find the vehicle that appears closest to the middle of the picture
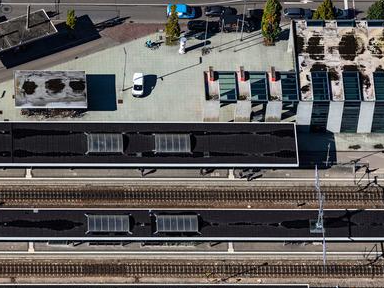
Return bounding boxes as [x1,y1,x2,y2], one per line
[132,72,145,97]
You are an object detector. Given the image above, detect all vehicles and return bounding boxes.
[246,7,268,20]
[203,6,231,18]
[132,72,145,97]
[221,15,254,34]
[187,20,216,34]
[168,4,195,19]
[285,7,313,20]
